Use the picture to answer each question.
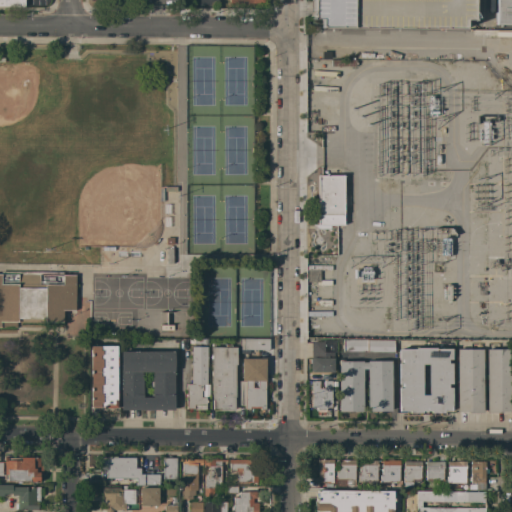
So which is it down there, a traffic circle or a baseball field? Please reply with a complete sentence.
It is a baseball field that can be seen here.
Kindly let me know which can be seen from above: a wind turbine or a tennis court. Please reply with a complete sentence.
The one in the frame is a tennis court.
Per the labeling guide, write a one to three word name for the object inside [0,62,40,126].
baseball field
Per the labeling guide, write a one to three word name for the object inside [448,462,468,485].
house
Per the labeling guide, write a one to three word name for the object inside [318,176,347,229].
building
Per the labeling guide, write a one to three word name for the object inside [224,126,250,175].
tennis court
